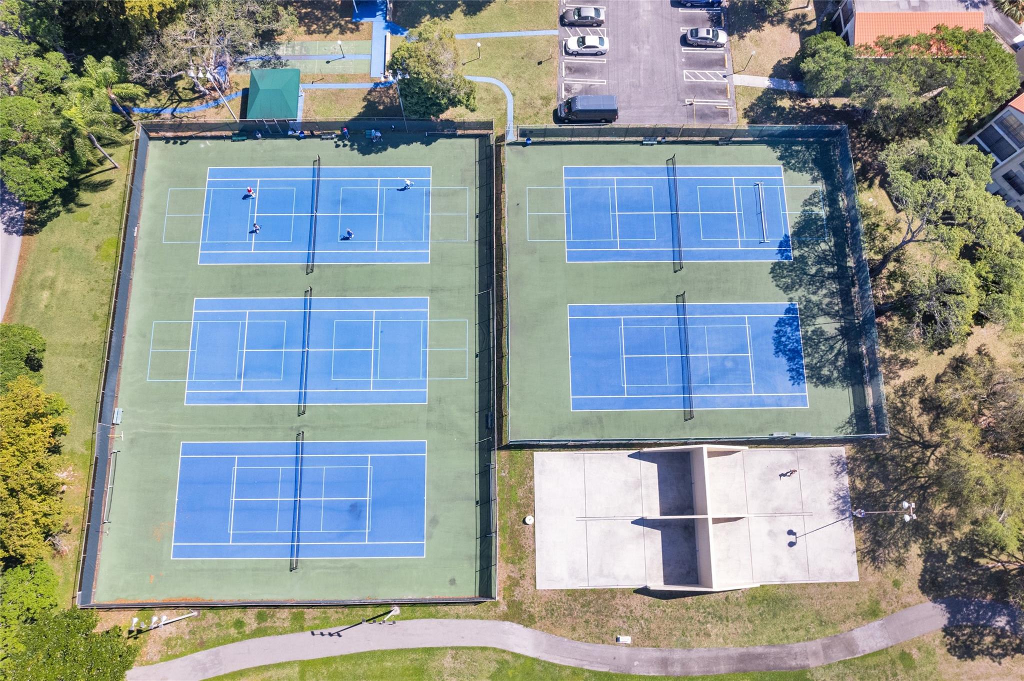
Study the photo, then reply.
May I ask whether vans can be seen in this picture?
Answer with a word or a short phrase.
Yes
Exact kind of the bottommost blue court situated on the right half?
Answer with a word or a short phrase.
tennis court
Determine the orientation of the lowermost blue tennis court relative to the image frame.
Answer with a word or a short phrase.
from left to right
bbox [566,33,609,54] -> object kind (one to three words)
car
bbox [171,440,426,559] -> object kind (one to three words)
tennis court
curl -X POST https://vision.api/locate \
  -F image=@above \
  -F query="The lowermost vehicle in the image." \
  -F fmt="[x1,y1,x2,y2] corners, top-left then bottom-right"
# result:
[556,94,616,122]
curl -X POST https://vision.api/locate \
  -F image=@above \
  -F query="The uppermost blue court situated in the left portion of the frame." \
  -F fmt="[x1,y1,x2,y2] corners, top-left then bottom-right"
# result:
[163,166,468,264]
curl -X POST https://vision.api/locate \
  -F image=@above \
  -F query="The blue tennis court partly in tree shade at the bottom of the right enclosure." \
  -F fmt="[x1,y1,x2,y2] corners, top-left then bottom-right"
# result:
[568,303,808,410]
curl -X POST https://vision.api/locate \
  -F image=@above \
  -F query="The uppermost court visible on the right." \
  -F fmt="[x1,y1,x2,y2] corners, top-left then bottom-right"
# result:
[528,166,827,262]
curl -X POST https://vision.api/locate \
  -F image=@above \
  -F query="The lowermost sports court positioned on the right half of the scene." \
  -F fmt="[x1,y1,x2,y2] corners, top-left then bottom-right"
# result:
[534,447,859,589]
